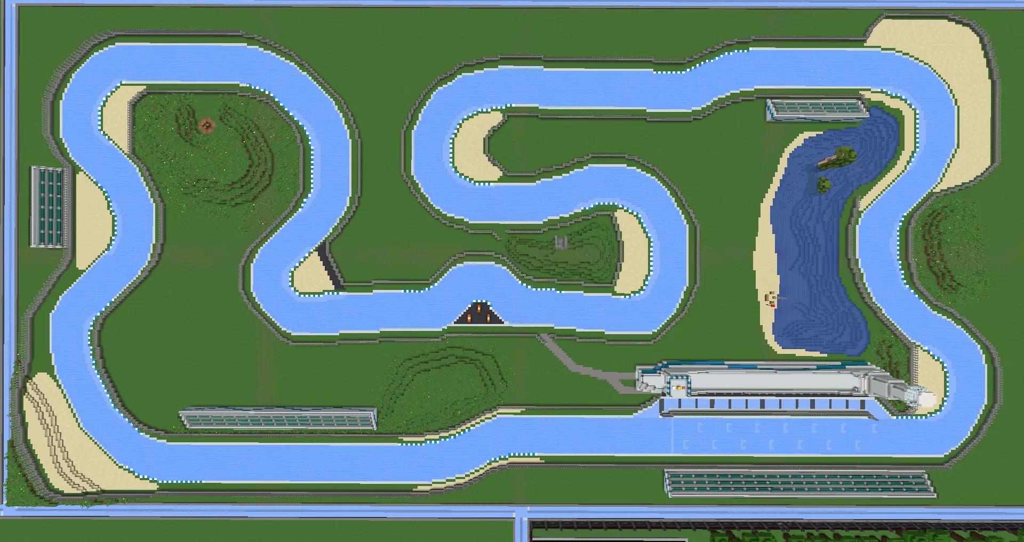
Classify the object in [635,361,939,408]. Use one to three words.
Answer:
building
